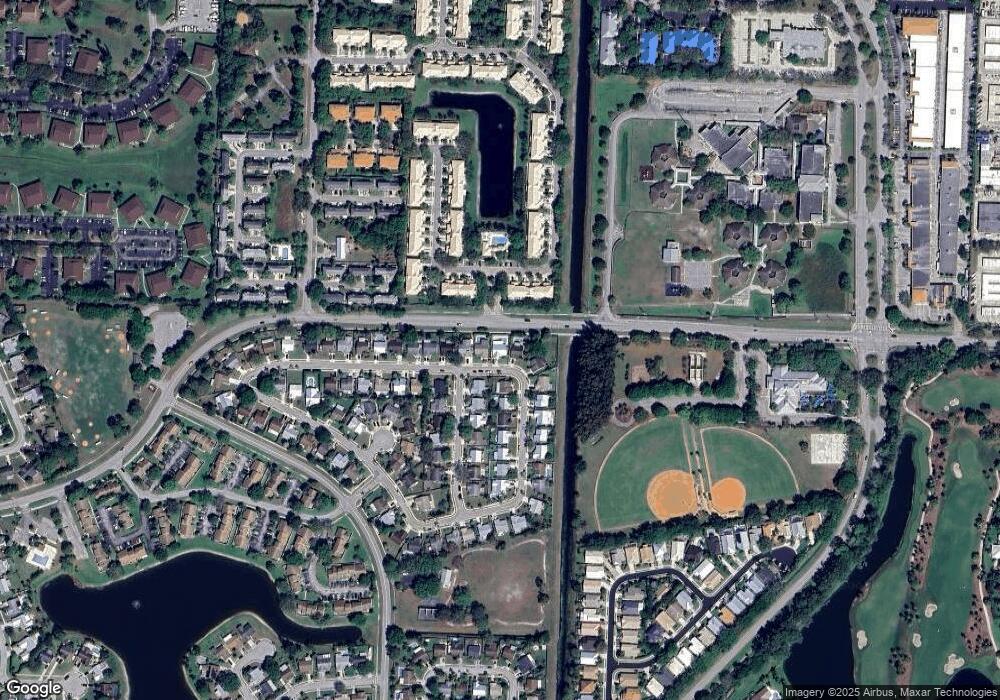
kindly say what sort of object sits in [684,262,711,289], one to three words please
basketball court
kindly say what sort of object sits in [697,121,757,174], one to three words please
building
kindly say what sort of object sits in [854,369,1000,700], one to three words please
golf course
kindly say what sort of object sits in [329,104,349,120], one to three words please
house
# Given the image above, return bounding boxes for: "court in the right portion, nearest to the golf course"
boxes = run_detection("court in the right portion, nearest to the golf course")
[811,434,848,464]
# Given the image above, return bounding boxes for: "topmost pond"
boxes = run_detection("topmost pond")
[429,91,516,219]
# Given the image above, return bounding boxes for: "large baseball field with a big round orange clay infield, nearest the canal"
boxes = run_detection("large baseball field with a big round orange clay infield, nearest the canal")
[594,416,700,528]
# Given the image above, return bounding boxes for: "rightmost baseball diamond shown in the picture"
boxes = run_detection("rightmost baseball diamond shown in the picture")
[702,427,798,514]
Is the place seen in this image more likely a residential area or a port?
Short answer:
residential area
